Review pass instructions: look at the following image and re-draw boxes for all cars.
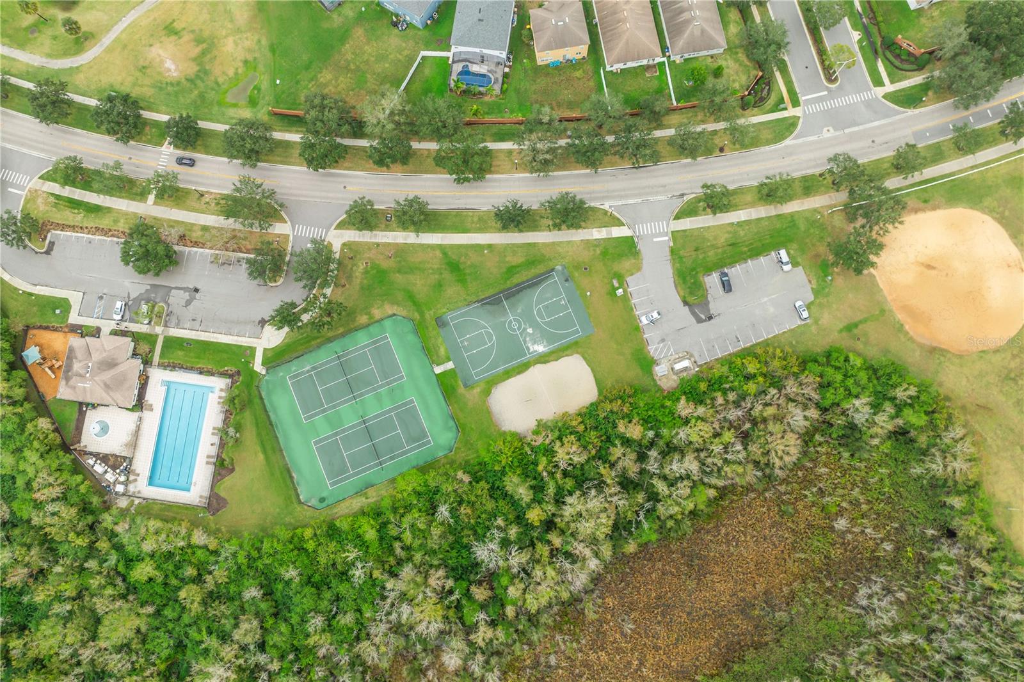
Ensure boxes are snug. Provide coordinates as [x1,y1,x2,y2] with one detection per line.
[640,310,662,324]
[777,248,792,270]
[173,154,195,166]
[795,299,811,321]
[720,271,733,292]
[112,299,125,320]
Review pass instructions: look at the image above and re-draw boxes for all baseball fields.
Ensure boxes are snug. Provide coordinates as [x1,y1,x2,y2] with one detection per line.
[872,208,1024,354]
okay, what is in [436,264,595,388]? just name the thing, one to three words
basketball court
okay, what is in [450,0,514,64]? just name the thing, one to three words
house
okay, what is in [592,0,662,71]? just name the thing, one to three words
house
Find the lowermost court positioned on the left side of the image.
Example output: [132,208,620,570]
[312,397,433,489]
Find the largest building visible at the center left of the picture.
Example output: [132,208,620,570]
[56,335,146,408]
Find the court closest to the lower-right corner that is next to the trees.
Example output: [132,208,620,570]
[487,353,599,435]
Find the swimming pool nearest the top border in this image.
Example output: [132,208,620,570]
[456,63,493,87]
